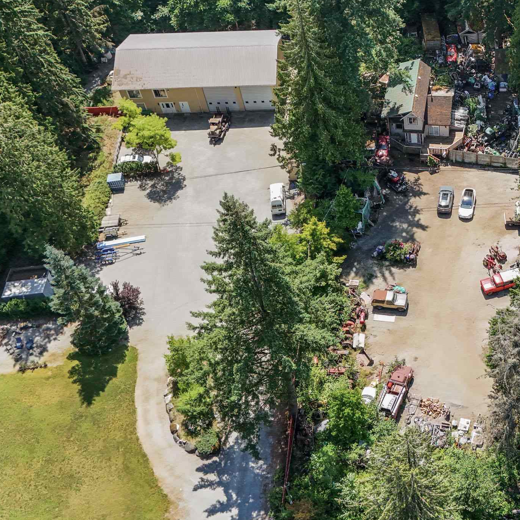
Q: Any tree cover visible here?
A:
Yes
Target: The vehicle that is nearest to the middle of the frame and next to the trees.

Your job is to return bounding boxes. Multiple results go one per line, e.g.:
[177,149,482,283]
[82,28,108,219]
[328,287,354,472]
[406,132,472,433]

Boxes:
[267,181,287,216]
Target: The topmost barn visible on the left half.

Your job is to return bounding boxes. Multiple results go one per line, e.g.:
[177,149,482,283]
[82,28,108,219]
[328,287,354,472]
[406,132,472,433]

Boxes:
[114,29,292,118]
